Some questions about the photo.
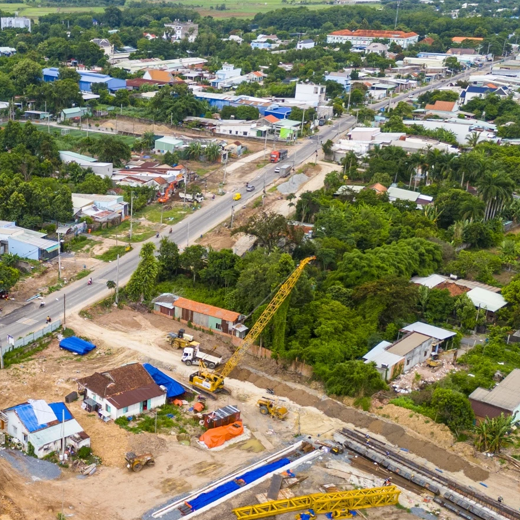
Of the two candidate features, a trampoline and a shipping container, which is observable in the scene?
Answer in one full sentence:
The image shows a shipping container.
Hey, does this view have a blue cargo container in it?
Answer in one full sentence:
No, I can see no blue cargo container in this picture.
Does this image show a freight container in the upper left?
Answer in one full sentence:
No, there is no freight container in the upper left.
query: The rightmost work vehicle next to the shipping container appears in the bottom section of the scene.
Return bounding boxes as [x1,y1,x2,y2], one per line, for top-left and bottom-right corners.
[258,395,293,422]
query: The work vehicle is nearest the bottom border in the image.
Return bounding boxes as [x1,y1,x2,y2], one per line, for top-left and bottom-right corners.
[127,452,155,471]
